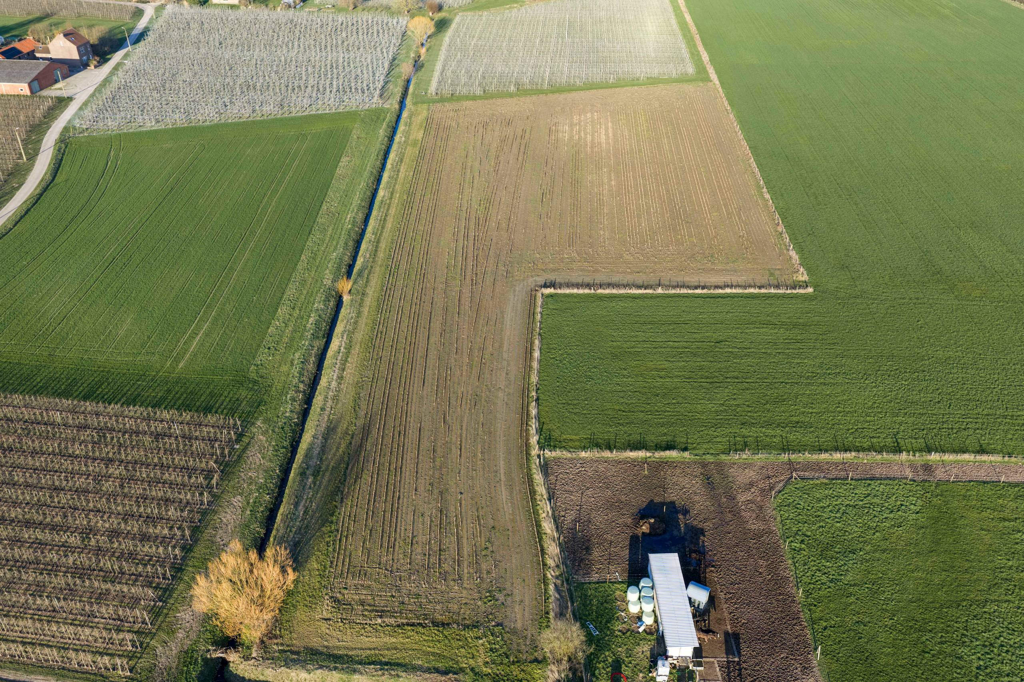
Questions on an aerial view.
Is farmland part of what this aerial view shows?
Yes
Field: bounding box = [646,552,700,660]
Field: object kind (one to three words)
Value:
shed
